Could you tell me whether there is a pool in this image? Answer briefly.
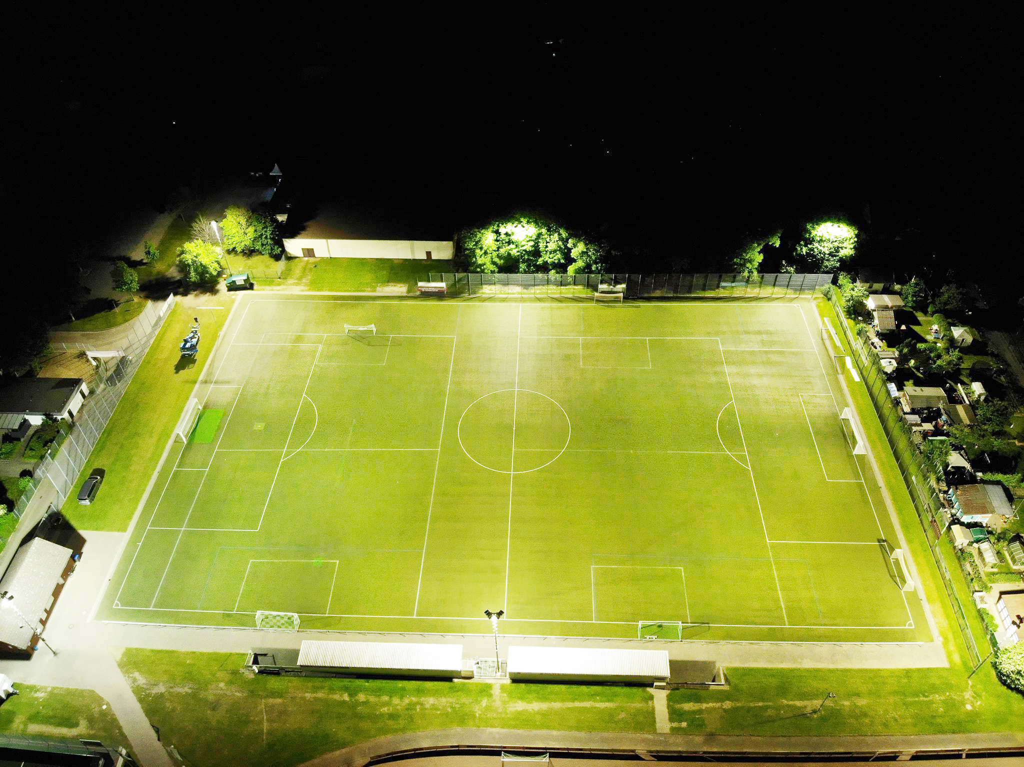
No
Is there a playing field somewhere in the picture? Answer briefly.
Yes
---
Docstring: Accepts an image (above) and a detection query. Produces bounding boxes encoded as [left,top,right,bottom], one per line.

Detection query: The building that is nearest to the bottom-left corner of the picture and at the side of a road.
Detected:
[0,537,79,658]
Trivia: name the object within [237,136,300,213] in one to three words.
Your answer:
house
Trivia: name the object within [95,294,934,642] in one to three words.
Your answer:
sports field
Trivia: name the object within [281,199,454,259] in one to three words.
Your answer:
building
